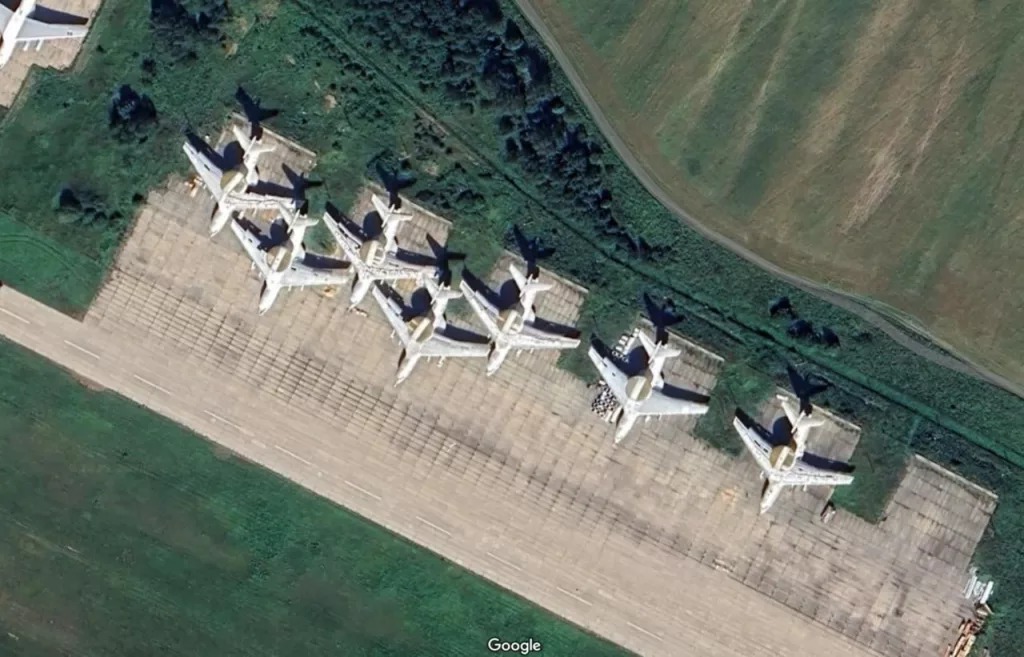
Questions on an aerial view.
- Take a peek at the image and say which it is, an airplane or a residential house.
airplane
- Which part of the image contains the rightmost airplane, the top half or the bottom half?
bottom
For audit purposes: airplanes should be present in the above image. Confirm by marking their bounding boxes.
[0,0,86,67]
[183,126,301,241]
[319,196,440,312]
[730,399,855,516]
[586,331,708,447]
[369,275,488,389]
[227,202,349,317]
[458,264,580,381]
